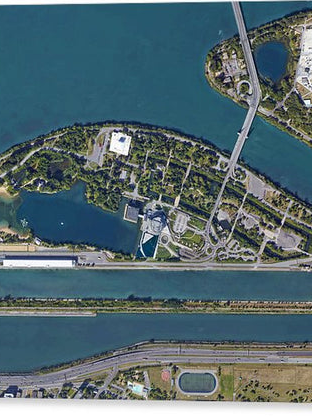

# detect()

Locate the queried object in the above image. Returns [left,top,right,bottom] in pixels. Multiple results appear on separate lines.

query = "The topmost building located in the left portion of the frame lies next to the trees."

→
[109,132,131,156]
